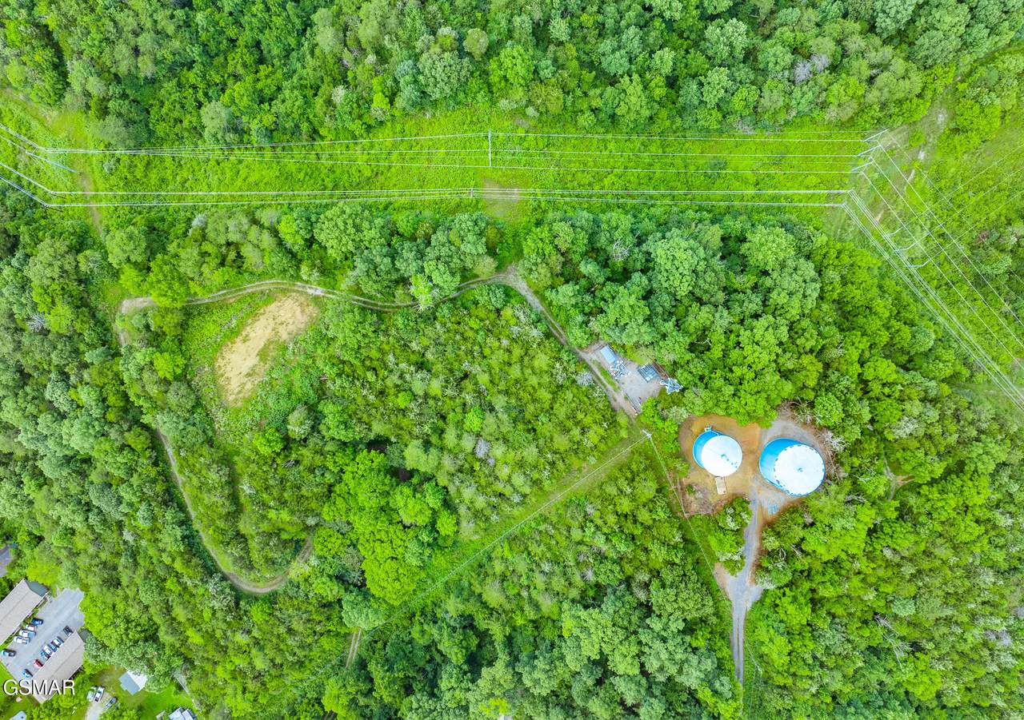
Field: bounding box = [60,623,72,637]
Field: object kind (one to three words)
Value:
vehicle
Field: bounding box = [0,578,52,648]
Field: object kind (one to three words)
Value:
building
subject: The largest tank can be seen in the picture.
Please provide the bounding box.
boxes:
[760,438,826,495]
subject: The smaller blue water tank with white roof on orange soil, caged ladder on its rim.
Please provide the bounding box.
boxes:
[693,429,742,476]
